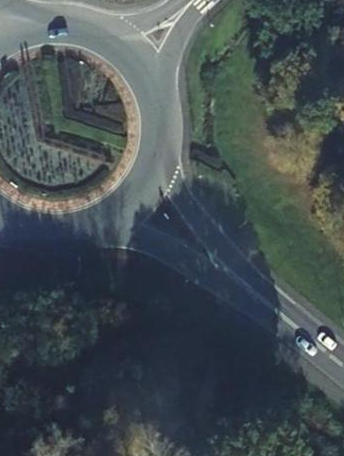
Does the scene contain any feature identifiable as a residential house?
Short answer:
No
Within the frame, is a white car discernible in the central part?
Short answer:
No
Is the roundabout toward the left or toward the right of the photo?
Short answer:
left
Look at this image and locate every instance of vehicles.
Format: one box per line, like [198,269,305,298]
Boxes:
[48,26,68,38]
[296,336,318,357]
[316,334,337,352]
